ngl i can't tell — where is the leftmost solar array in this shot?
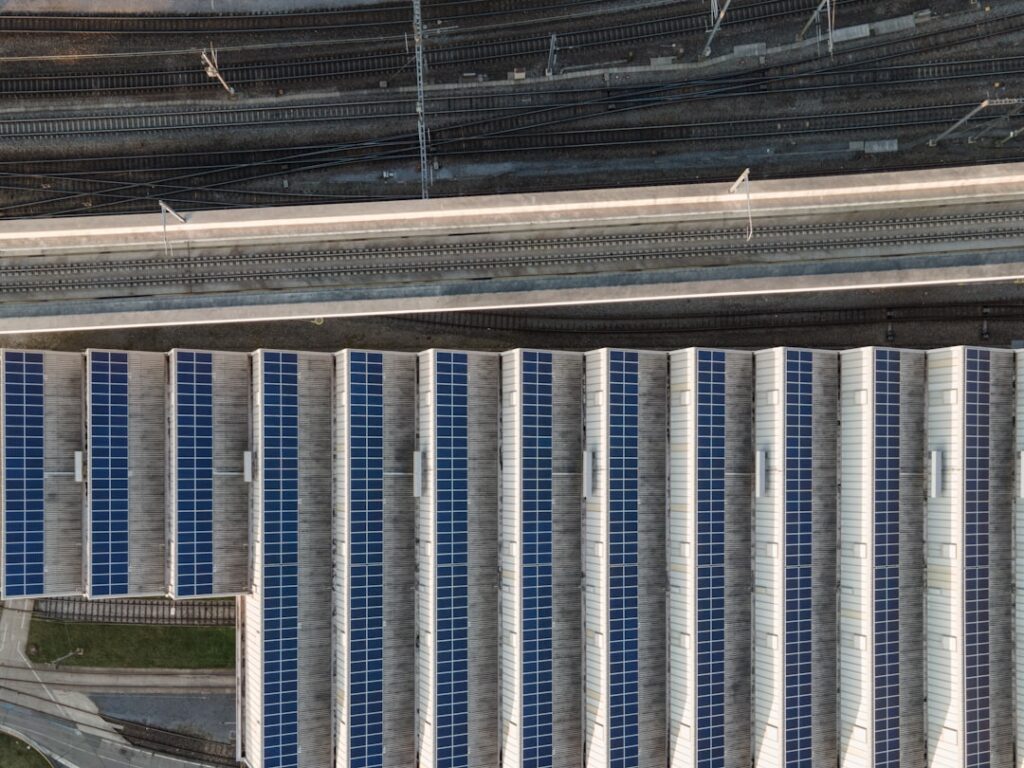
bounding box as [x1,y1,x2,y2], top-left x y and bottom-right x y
[5,352,77,598]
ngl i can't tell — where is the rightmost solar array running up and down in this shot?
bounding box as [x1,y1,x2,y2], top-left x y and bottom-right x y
[965,349,990,768]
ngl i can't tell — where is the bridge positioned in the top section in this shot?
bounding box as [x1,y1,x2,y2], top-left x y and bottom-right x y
[0,163,1024,334]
